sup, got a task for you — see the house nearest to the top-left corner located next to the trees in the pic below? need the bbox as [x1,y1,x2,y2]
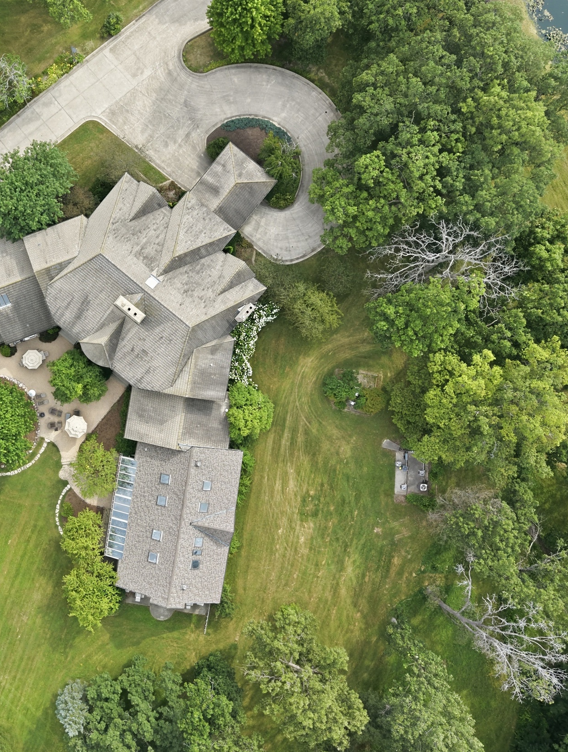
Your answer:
[0,142,277,449]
